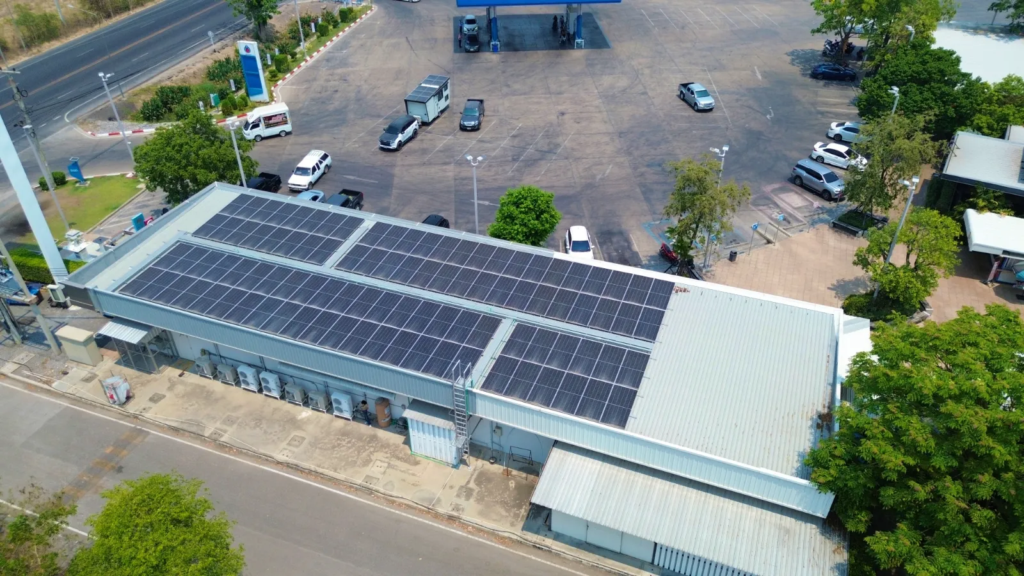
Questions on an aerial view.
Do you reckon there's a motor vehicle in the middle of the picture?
Yes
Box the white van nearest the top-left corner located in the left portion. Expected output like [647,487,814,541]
[246,107,291,141]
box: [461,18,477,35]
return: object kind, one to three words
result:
car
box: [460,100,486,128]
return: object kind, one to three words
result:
truck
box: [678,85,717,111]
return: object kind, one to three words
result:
truck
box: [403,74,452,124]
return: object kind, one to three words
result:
trailer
